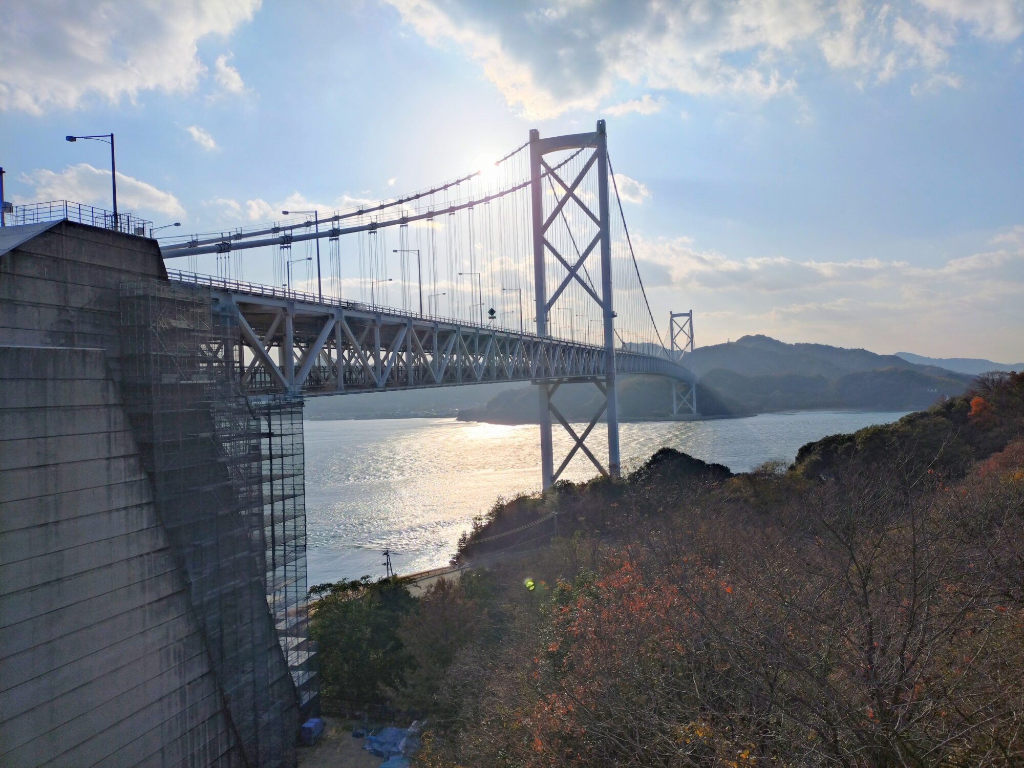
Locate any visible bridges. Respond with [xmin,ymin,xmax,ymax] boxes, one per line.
[162,118,700,488]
